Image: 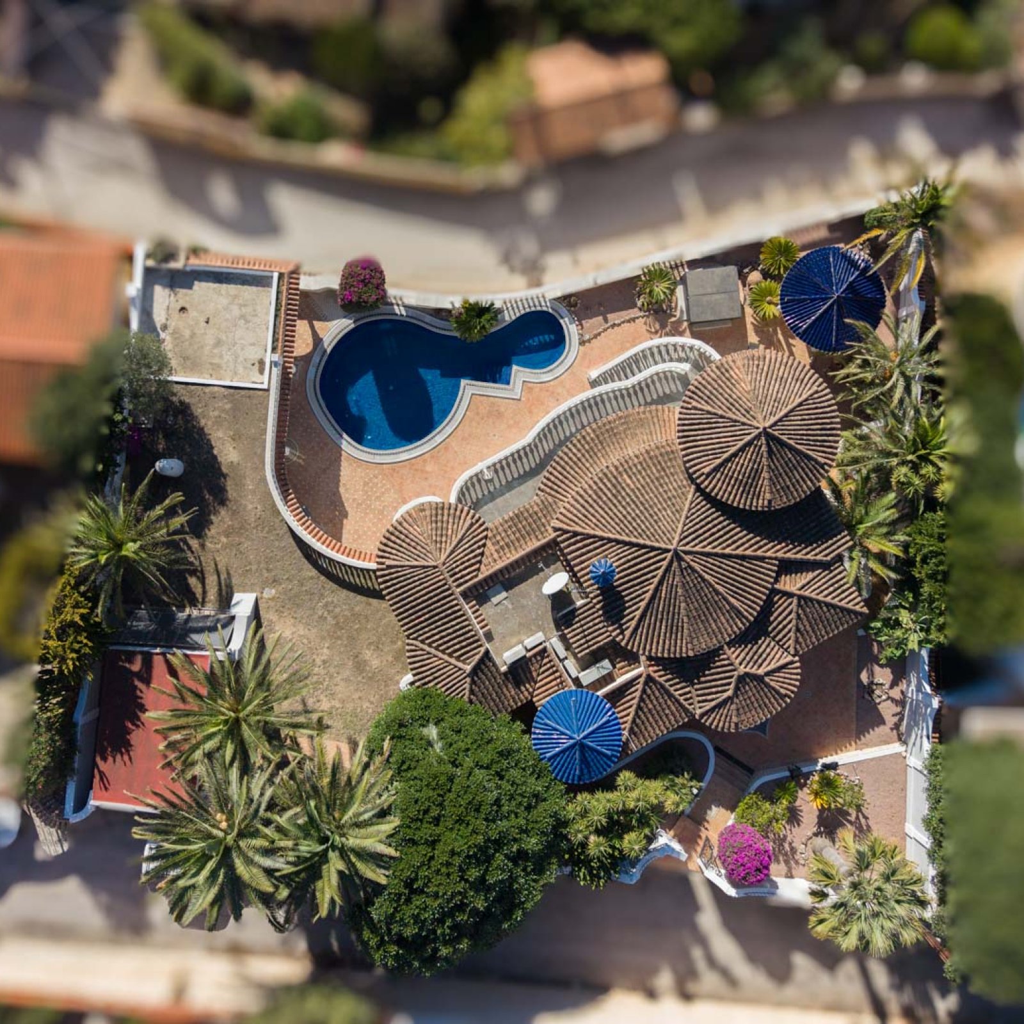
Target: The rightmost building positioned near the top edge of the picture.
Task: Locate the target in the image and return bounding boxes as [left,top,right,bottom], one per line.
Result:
[516,38,678,177]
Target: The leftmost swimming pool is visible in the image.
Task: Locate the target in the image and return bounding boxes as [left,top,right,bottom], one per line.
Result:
[305,301,581,464]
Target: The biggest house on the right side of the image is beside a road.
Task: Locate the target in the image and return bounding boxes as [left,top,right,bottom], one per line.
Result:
[375,347,871,784]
